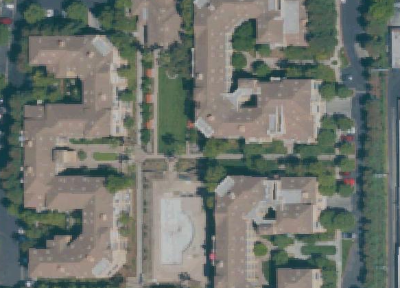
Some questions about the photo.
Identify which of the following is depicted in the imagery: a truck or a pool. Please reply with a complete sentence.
This aerial view contains a pool.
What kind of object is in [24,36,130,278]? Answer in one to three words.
building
